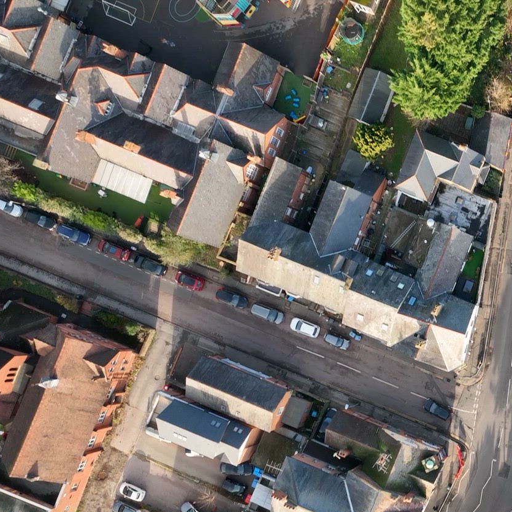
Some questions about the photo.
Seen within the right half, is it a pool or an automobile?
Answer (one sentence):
It is an automobile that can be seen within the right half.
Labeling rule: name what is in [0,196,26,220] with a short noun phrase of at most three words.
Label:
car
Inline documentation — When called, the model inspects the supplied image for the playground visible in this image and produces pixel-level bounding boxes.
[49,0,341,83]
